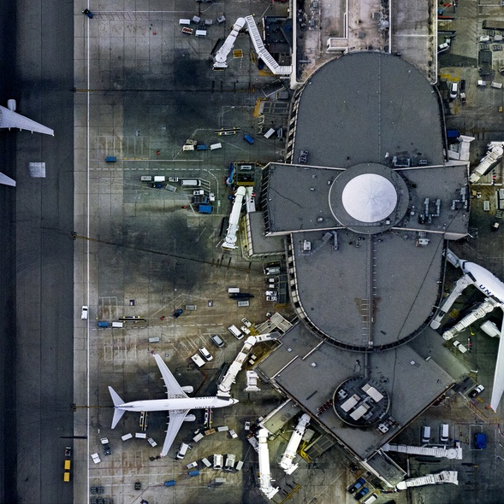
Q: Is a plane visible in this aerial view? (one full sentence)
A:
Yes, there's a plane down there.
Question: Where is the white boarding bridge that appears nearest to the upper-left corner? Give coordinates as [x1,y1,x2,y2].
[211,14,290,77]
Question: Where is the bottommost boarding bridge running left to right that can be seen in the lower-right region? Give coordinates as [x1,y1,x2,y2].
[393,468,462,493]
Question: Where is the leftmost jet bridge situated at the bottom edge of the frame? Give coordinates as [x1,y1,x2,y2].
[253,427,285,504]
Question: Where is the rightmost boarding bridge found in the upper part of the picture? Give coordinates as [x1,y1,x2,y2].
[469,135,504,186]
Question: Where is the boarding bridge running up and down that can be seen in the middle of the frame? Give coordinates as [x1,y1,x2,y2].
[219,183,247,253]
